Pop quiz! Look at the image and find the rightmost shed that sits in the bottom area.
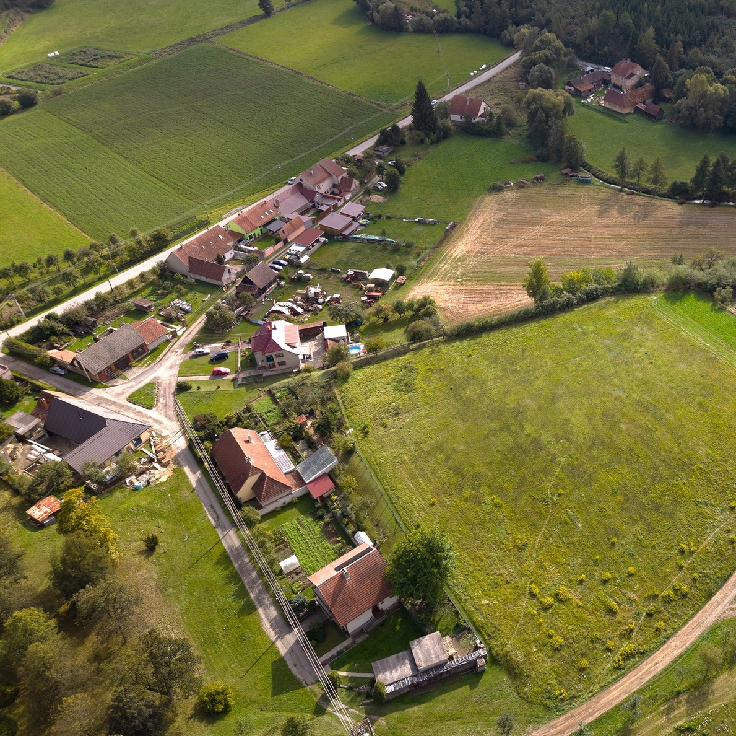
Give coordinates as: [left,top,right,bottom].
[410,632,448,673]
